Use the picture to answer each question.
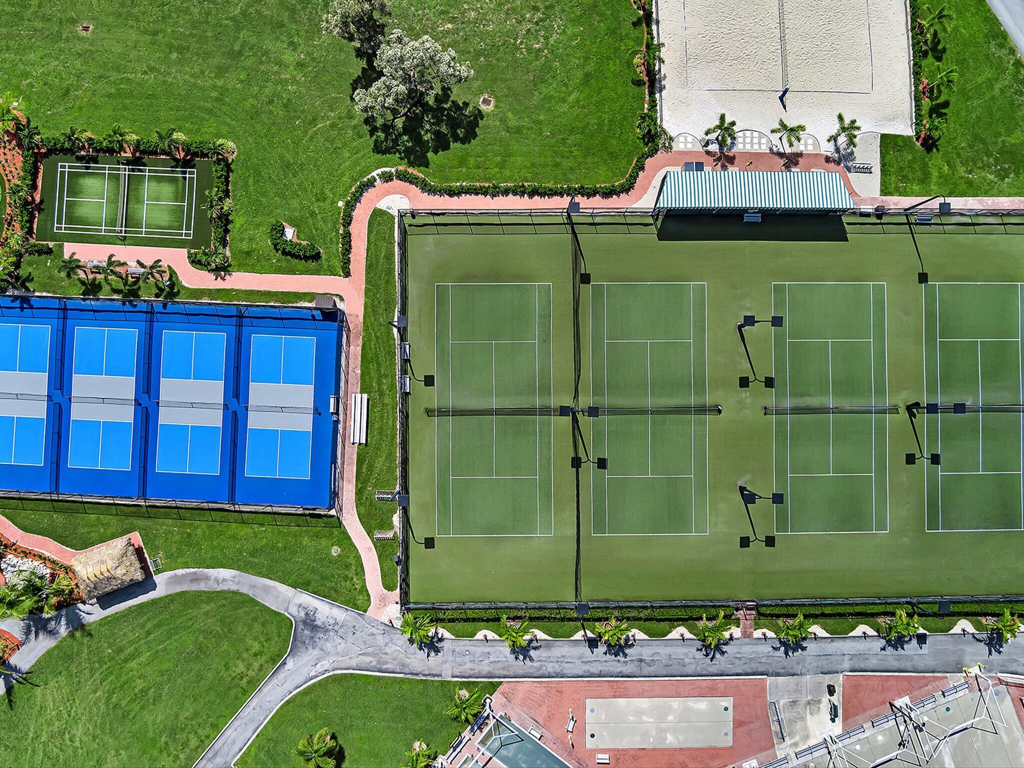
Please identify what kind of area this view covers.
sports ground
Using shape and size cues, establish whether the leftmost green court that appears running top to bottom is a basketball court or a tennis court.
tennis court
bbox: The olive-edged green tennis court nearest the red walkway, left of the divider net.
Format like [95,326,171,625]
[401,214,577,603]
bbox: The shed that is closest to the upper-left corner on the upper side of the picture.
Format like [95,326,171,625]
[311,295,336,310]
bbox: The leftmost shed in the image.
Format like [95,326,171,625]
[71,533,149,604]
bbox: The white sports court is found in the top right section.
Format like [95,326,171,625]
[660,0,915,154]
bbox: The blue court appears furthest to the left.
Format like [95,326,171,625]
[0,298,63,491]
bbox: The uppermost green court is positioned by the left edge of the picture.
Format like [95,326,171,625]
[37,153,212,250]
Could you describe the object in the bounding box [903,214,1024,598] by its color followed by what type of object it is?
green tennis court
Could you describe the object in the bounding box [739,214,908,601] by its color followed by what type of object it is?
green tennis court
